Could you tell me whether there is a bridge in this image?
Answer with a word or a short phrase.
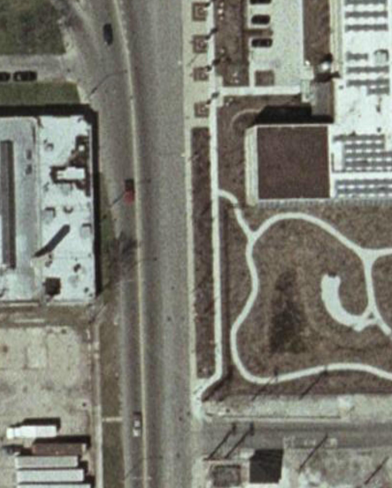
No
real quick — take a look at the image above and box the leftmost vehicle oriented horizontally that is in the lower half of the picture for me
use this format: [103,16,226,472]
[1,444,30,457]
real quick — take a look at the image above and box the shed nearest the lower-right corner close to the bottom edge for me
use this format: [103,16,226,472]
[246,458,279,485]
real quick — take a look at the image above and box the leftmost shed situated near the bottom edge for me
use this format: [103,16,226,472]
[213,466,241,487]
